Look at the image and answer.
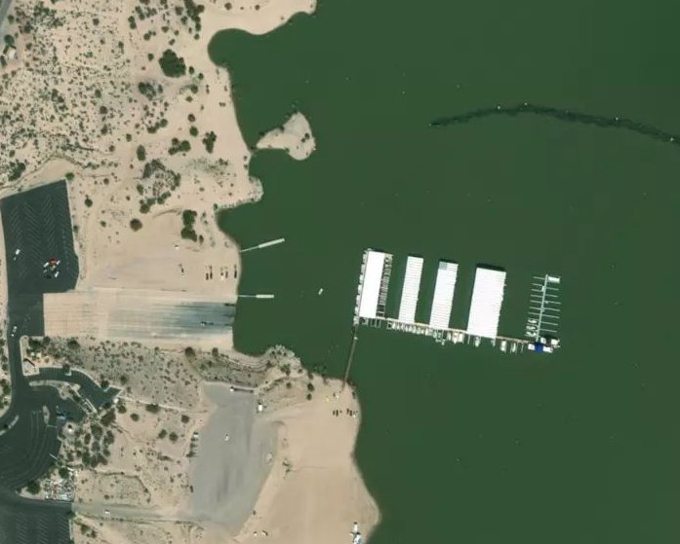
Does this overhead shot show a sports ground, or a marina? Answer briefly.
marina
